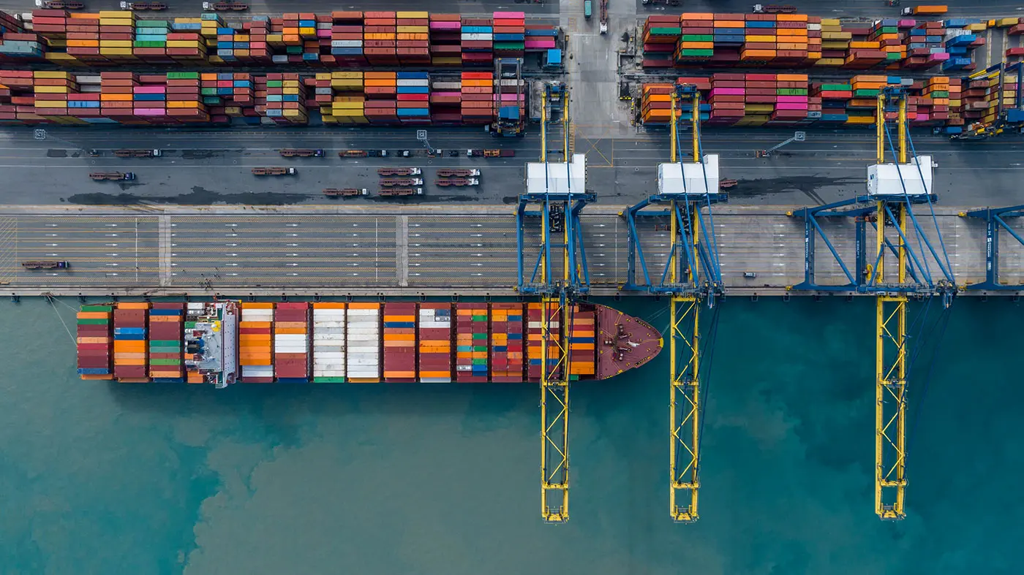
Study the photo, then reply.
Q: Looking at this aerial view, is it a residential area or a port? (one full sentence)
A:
This image shows a port.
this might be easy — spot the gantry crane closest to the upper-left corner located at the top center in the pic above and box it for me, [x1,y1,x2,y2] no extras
[492,59,526,139]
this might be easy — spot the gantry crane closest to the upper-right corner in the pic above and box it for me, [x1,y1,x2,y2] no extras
[954,62,1024,140]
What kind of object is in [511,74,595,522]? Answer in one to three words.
container crane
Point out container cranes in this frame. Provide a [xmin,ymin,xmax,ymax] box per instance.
[954,62,1024,140]
[961,203,1024,290]
[786,76,961,520]
[616,75,726,521]
[492,59,526,139]
[511,74,595,522]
